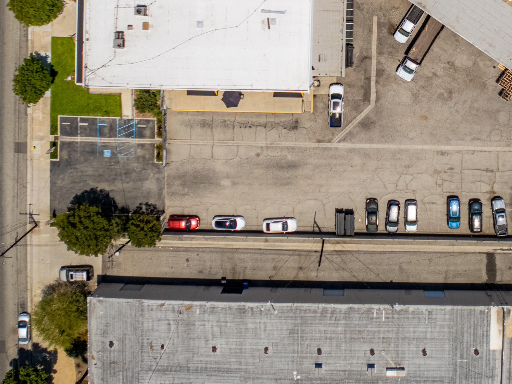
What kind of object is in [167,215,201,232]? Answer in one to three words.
car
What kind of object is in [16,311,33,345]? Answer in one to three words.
car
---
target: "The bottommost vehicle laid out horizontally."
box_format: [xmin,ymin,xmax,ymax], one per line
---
[59,265,95,282]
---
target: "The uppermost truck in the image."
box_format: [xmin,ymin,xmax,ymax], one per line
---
[392,3,423,46]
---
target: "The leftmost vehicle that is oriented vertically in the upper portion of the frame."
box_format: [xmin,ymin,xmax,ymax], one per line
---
[328,83,345,128]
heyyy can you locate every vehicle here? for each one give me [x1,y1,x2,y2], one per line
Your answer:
[167,215,201,232]
[16,311,33,345]
[364,197,380,232]
[445,195,462,228]
[492,197,508,236]
[399,17,444,80]
[392,3,423,46]
[263,217,297,234]
[384,199,400,234]
[467,198,484,233]
[403,198,419,233]
[59,265,95,282]
[328,83,345,128]
[212,215,247,230]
